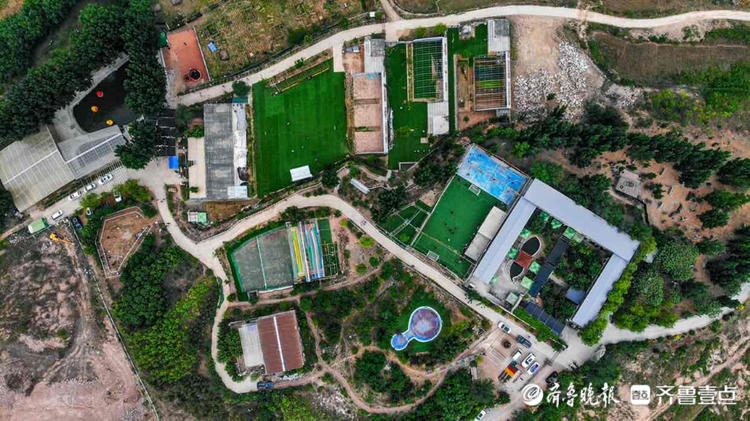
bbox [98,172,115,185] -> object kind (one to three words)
vehicle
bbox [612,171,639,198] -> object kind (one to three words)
shed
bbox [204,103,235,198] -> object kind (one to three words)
house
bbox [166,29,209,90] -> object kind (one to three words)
sports court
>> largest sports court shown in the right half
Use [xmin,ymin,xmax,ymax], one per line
[457,144,527,204]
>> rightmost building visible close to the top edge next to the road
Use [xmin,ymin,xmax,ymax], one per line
[486,20,510,53]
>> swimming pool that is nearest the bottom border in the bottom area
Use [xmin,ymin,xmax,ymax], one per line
[391,308,442,351]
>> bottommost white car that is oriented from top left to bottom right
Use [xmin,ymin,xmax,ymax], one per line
[497,320,513,333]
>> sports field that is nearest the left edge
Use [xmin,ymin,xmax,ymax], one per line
[252,59,350,197]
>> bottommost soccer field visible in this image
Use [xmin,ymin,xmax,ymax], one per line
[412,175,509,278]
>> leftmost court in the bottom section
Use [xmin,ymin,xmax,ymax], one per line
[232,228,294,293]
